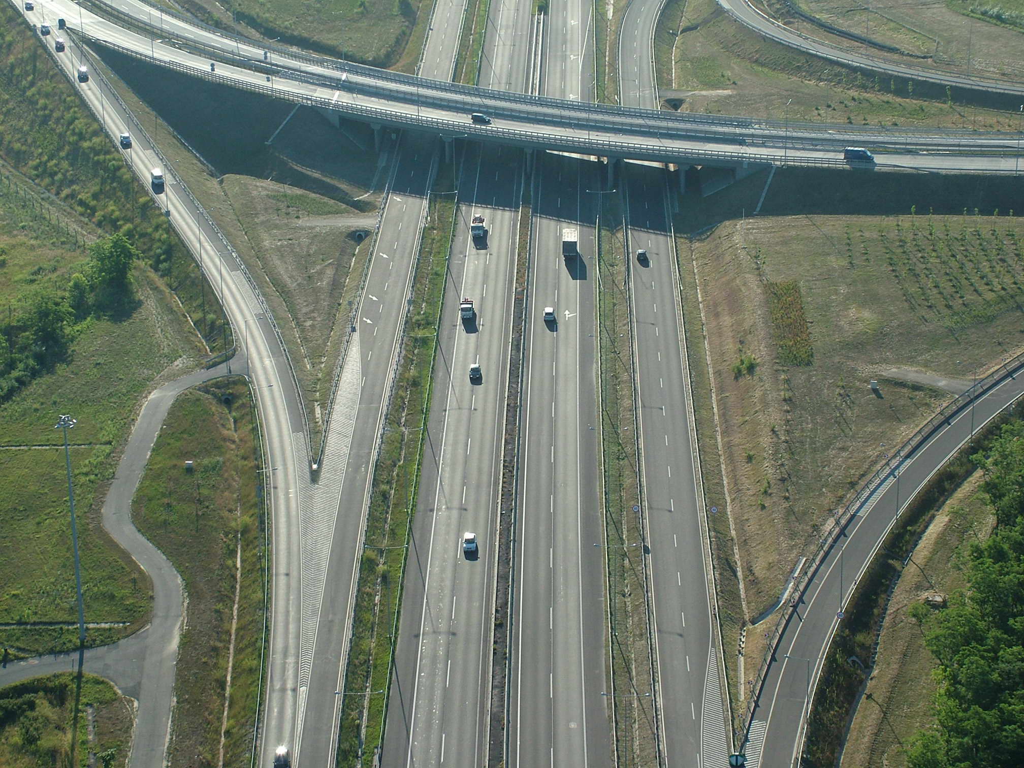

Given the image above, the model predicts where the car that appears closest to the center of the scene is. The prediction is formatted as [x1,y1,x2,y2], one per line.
[469,361,481,376]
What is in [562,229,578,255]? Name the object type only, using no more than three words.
vehicle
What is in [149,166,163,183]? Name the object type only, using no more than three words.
vehicle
